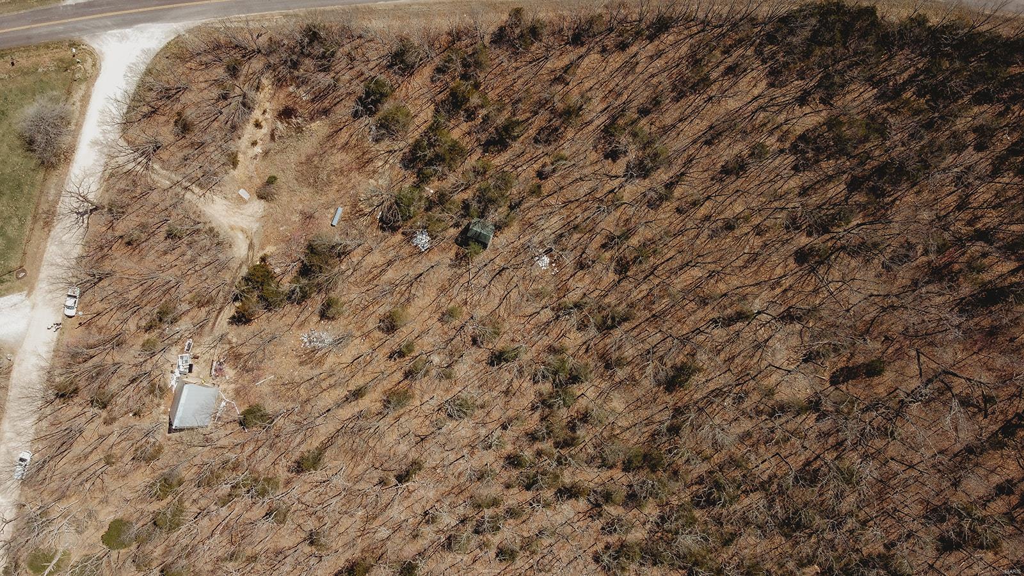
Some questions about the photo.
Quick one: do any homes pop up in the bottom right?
No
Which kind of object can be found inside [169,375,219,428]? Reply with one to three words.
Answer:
house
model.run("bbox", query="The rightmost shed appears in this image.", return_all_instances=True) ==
[468,218,496,245]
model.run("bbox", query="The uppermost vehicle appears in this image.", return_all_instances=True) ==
[64,286,82,318]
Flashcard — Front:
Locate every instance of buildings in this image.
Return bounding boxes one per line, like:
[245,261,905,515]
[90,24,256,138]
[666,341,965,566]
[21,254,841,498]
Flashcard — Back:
[468,218,496,245]
[169,375,219,428]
